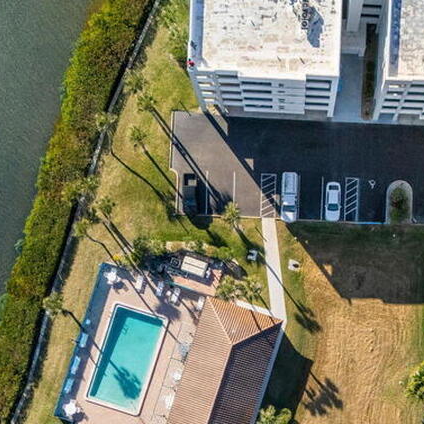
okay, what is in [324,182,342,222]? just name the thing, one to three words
car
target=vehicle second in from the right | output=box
[280,171,299,221]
